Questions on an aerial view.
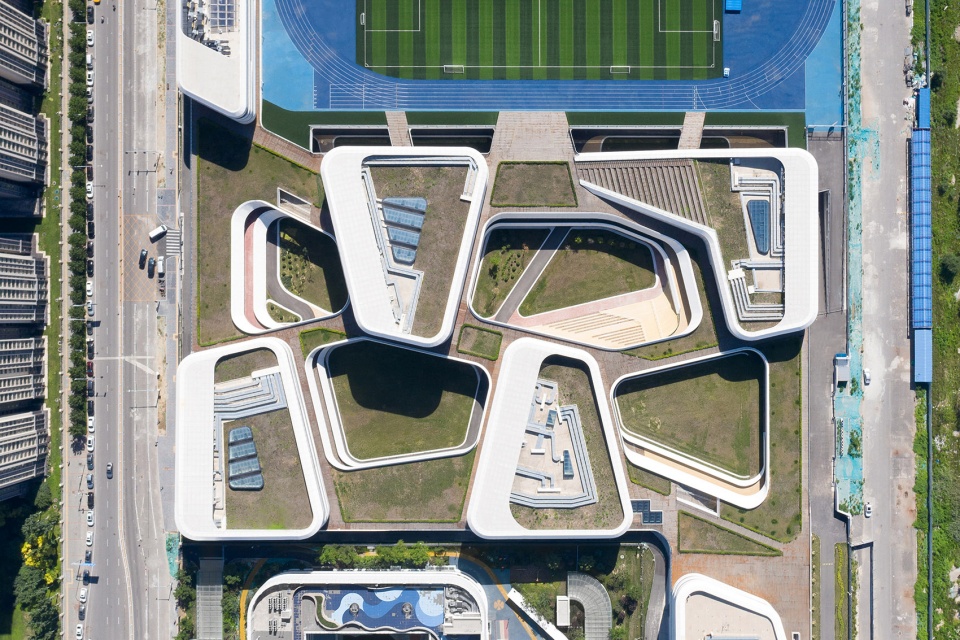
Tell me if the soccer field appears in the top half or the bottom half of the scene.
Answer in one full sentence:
Seen from above, the soccer field lies in the top half of the view.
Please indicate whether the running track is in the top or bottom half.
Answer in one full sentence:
You can find the running track in the top half.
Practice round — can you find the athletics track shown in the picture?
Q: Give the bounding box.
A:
[263,0,844,152]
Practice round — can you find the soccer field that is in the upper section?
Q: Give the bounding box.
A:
[356,0,723,81]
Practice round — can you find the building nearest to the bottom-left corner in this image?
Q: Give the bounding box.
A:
[0,410,50,498]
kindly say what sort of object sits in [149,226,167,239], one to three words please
vehicle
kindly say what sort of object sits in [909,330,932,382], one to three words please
shed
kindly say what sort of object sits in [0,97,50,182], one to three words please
building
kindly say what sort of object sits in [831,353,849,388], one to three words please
shed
